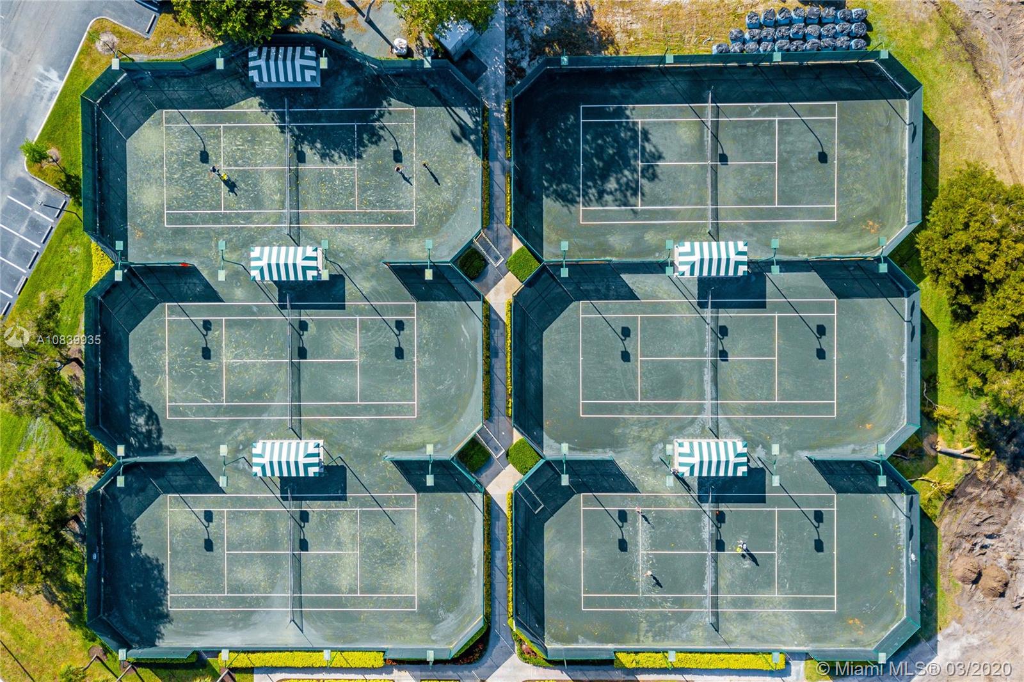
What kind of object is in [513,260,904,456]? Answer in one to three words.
tennis court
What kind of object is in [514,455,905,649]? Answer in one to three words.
tennis court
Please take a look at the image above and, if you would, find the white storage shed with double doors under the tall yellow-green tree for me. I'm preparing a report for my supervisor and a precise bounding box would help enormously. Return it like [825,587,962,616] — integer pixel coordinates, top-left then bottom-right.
[420,1,483,67]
